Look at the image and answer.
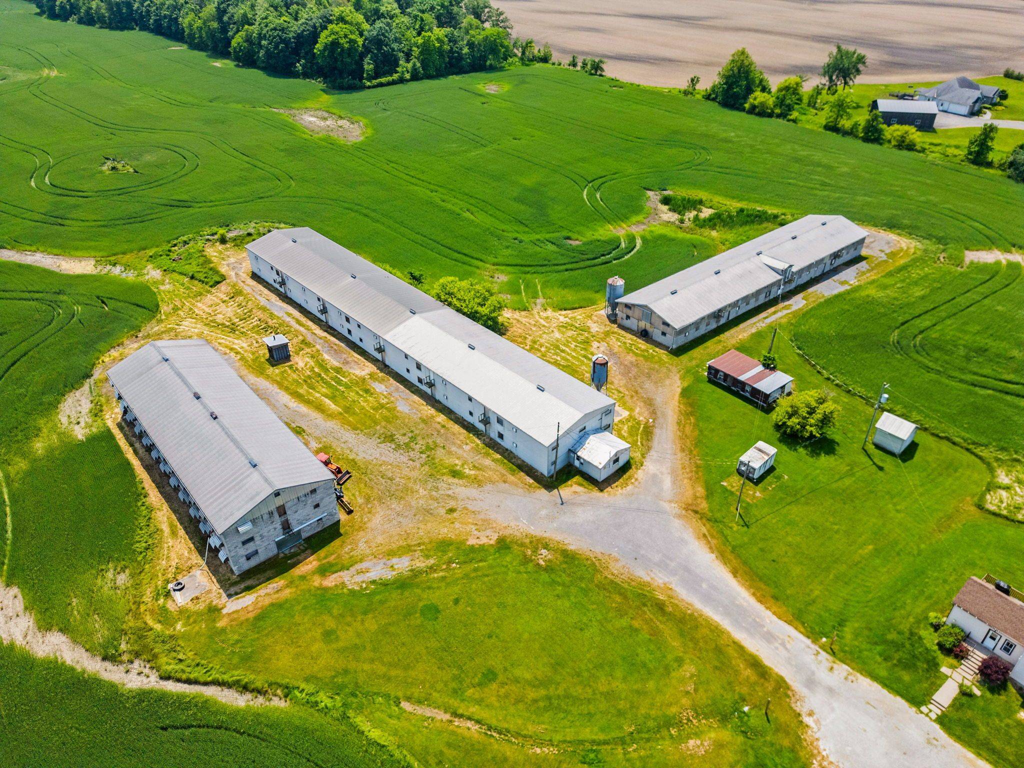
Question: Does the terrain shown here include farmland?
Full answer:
Yes, farmland shows up in the scene.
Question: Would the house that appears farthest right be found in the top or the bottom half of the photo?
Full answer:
The house that appears farthest right sits in the bottom half of the picture.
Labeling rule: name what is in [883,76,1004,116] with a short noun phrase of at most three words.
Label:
house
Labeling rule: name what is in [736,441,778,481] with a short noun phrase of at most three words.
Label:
trailer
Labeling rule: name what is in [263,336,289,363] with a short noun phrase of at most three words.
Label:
shed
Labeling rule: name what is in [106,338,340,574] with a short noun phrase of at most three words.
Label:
barn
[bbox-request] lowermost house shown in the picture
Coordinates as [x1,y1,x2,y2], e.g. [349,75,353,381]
[949,572,1024,705]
